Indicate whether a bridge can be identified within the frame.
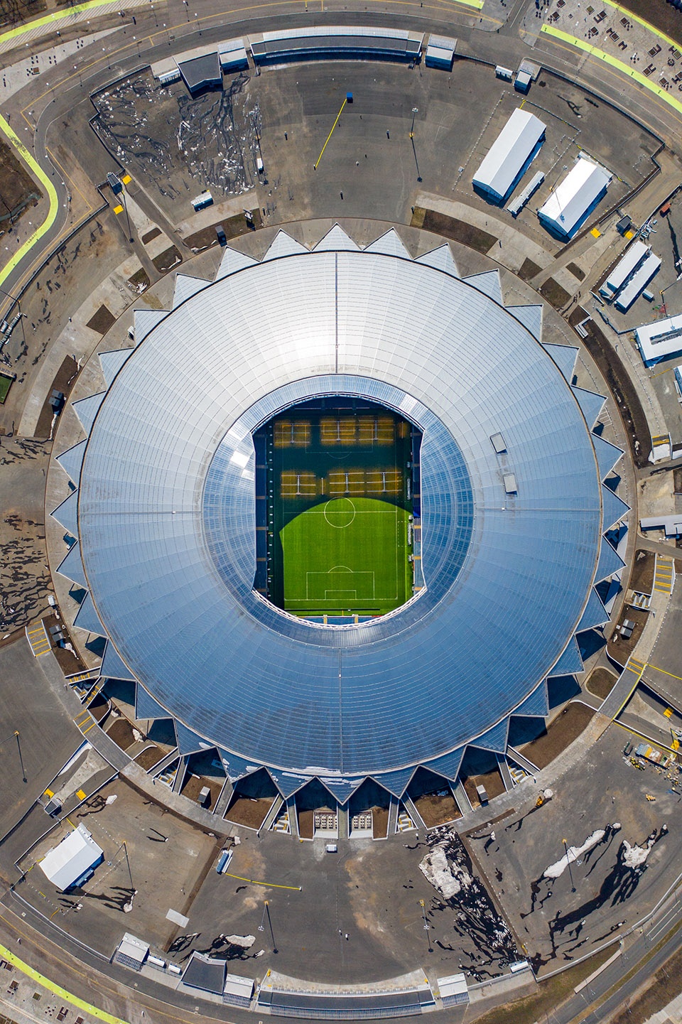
Yes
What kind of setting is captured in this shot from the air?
sports ground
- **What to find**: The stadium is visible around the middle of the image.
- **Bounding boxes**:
[48,220,632,804]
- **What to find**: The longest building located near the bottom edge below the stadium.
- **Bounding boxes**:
[257,982,435,1019]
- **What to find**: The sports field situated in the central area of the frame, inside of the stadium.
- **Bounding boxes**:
[272,410,411,615]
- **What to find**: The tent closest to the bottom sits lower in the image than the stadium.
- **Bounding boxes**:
[39,820,106,890]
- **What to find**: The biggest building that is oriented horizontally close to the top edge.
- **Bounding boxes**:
[250,25,421,62]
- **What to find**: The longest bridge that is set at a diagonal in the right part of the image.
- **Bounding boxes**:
[598,657,647,720]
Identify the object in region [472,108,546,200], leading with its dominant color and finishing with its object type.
white tent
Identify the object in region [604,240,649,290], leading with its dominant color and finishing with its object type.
white tent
